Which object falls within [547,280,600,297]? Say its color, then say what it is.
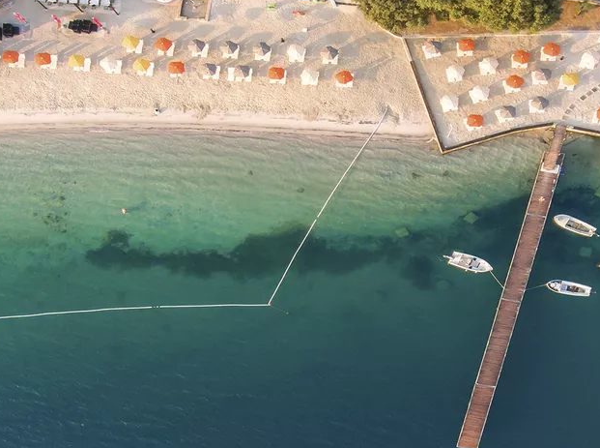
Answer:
white boat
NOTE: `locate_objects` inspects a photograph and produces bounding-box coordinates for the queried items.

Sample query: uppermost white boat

[554,217,600,237]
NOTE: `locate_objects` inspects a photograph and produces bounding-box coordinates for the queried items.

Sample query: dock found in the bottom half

[458,142,567,448]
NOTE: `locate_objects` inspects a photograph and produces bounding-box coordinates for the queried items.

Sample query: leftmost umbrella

[2,49,22,67]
